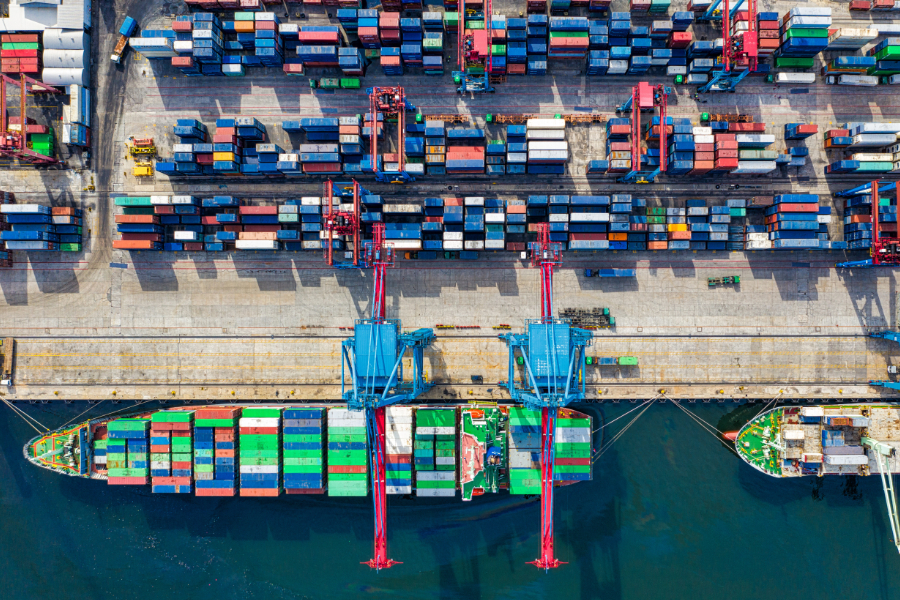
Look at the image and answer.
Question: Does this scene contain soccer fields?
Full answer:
No, I can see no soccer field in this picture.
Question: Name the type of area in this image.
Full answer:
The picture captures a port.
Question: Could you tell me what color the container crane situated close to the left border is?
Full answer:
The container crane situated close to the left border is red.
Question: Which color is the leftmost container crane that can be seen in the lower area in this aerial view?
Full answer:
From above, the leftmost container crane that can be seen in the lower area appears blue.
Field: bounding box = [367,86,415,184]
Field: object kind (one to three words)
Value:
container crane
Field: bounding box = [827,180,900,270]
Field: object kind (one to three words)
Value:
container crane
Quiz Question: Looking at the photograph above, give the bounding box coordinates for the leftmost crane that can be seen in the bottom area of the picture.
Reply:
[336,221,436,575]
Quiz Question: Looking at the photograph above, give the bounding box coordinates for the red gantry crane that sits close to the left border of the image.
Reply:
[0,72,72,170]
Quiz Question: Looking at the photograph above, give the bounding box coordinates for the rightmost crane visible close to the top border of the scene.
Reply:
[692,0,753,92]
